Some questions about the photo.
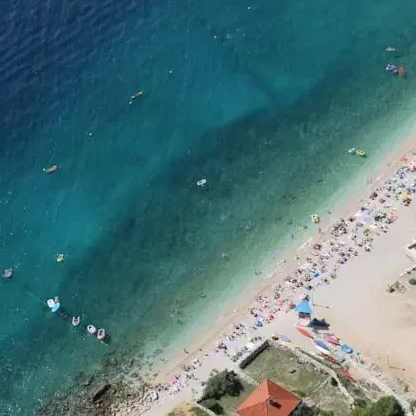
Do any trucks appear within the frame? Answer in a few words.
No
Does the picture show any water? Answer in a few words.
Yes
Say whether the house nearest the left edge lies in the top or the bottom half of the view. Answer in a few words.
bottom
